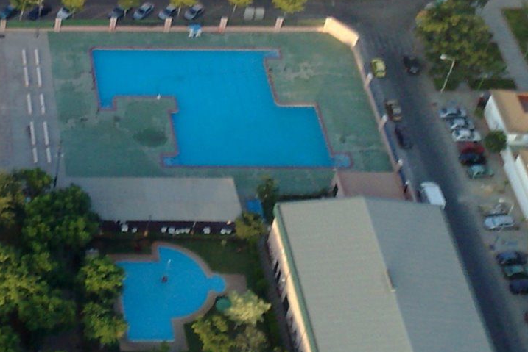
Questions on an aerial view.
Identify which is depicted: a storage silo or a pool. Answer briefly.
pool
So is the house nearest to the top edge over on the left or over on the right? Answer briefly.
right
